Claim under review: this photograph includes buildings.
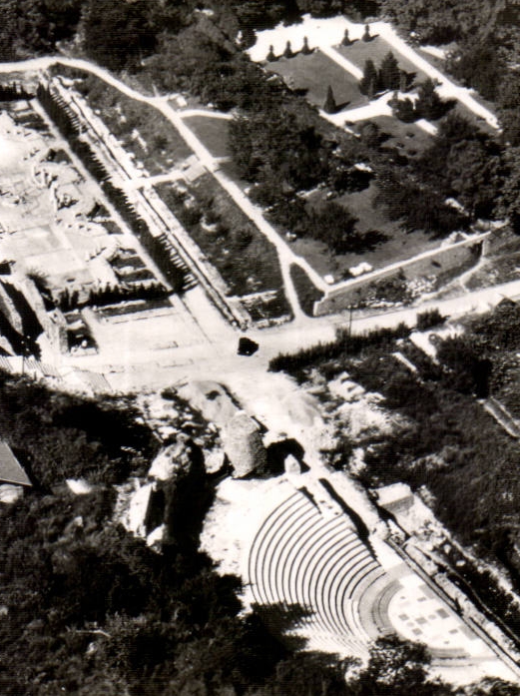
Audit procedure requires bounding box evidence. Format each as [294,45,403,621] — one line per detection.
[0,441,32,506]
[373,485,414,520]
